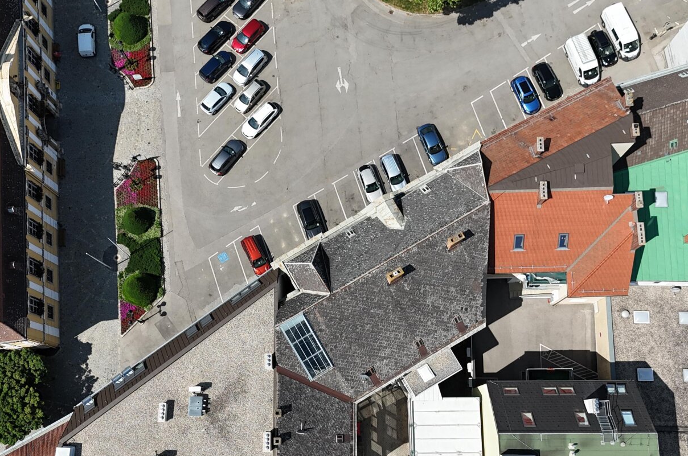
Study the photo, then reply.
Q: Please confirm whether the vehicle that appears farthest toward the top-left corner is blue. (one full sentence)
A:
Yes, the vehicle that appears farthest toward the top-left corner is blue.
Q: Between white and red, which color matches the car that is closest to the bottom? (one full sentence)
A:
From above, the car that is closest to the bottom appears red.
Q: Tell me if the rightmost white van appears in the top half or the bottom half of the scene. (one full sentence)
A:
The top half of the photo is where the rightmost white van is.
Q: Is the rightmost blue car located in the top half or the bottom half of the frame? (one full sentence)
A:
You can find the rightmost blue car in the top half.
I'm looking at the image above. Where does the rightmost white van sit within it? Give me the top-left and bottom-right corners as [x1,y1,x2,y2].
[599,0,641,62]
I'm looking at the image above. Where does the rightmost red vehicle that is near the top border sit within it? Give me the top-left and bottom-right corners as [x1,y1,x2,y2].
[230,18,270,54]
